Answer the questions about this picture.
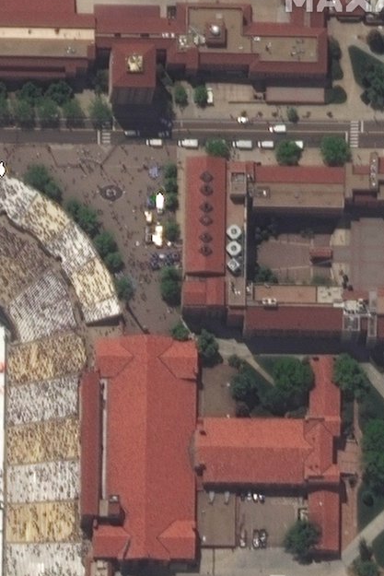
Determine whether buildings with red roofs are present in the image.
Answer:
Yes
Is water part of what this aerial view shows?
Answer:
No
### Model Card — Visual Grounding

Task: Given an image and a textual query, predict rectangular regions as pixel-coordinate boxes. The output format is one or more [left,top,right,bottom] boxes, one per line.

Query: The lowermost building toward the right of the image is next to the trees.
[196,353,340,554]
